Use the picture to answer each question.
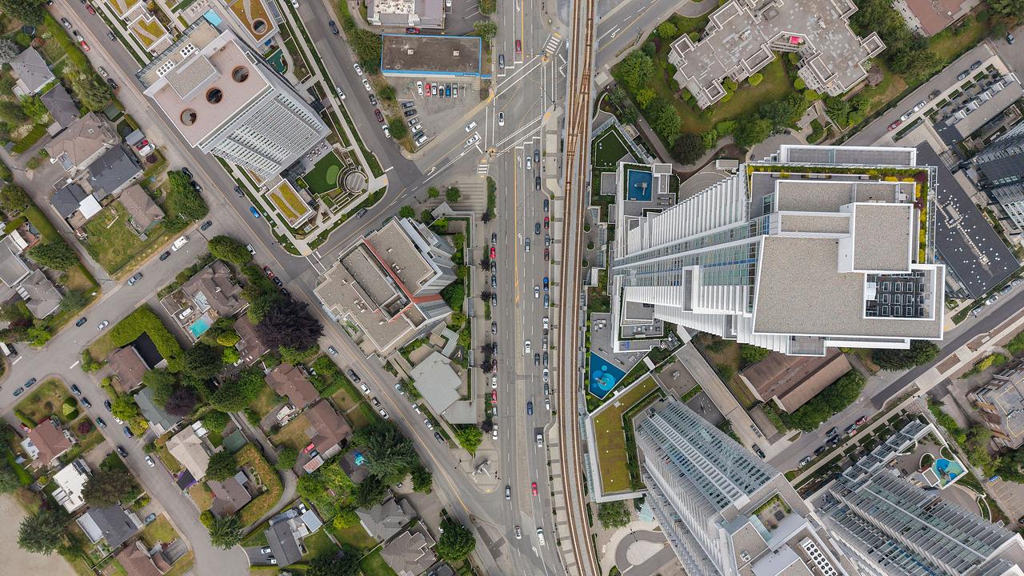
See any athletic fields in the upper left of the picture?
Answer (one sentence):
No, no athletic field is visible in the upper left of the picture.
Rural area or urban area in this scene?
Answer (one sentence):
It looks urban.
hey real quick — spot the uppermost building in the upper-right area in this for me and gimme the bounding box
[894,0,981,39]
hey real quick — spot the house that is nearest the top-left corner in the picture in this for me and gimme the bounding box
[10,46,59,101]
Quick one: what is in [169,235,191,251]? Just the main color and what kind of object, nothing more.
white camper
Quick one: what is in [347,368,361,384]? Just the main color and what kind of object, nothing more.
gray car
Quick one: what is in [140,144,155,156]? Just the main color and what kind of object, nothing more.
white vehicle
